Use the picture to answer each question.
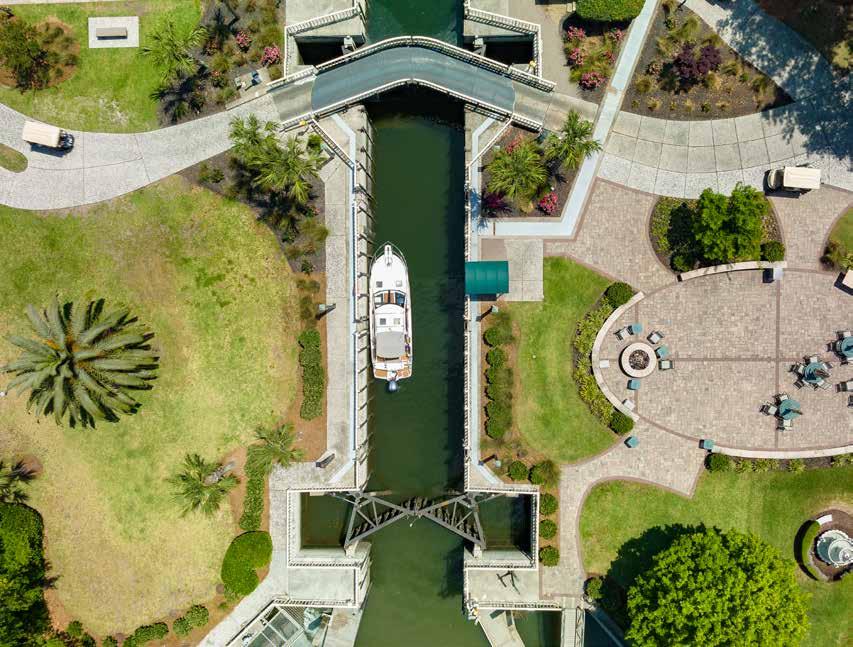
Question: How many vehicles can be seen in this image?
2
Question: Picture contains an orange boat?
No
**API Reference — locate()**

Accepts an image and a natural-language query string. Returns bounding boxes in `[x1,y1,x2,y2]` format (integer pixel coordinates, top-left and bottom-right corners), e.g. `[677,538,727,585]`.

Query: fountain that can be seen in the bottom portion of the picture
[814,529,853,566]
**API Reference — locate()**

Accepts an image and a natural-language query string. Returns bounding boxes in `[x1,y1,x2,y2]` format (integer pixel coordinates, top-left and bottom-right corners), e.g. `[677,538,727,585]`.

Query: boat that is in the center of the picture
[370,241,413,391]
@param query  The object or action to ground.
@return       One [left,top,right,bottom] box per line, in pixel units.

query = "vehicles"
[22,121,80,158]
[764,168,821,195]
